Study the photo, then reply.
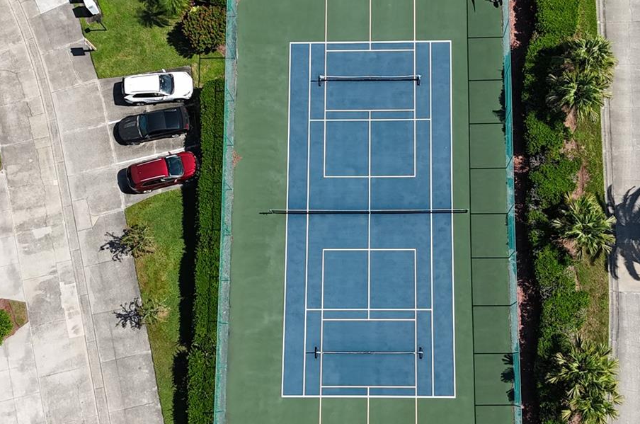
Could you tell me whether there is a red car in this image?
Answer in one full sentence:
Yes, this view includes a red car.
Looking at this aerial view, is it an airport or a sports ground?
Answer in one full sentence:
What you see here is a sports ground.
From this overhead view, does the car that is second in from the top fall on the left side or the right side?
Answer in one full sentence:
The car that is second in from the top is on the left side of the image.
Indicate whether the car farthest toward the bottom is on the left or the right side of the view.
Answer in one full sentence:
The car farthest toward the bottom appears in the left half of the scene.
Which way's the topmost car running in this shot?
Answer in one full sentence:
In this picture, the topmost car is oriented from side to side.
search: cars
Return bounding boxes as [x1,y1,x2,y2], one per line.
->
[117,105,192,146]
[126,151,198,192]
[123,70,192,106]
